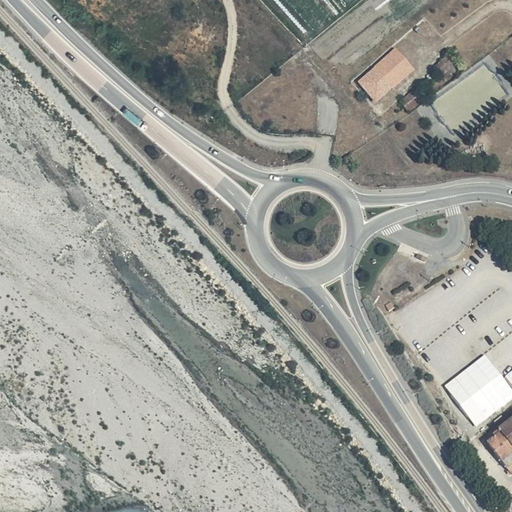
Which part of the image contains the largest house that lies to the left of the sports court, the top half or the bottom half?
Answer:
top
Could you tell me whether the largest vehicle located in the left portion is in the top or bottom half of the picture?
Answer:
top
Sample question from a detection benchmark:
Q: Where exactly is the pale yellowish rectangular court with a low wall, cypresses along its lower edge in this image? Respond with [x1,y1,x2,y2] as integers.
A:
[432,64,509,134]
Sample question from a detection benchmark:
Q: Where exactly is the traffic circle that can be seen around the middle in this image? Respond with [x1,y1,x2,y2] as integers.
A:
[244,167,366,288]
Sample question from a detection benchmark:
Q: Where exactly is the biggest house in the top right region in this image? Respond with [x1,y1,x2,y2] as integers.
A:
[358,48,416,102]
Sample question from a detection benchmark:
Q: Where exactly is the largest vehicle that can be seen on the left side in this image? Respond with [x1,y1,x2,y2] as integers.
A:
[122,108,145,128]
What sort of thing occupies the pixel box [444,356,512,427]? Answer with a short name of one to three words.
building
